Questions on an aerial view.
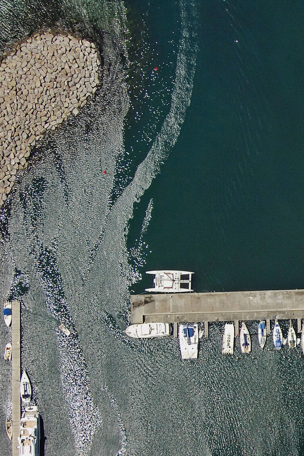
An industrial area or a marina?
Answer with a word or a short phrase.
marina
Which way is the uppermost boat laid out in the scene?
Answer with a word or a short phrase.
from side to side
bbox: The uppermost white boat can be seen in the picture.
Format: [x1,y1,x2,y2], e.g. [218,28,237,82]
[146,270,193,291]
